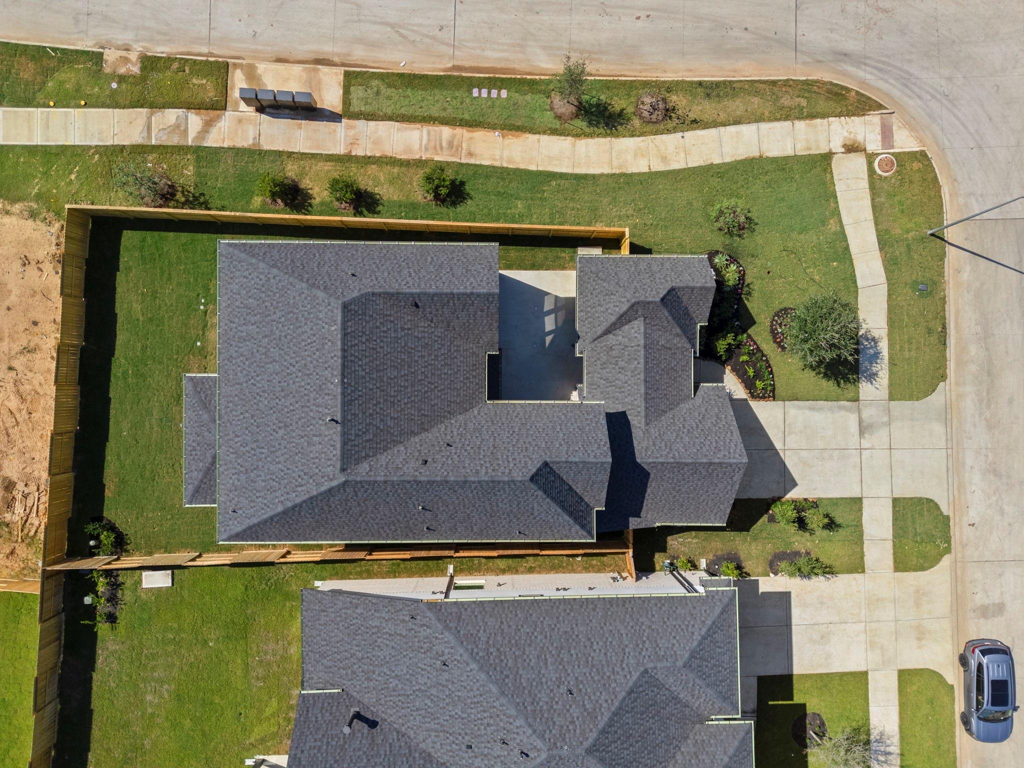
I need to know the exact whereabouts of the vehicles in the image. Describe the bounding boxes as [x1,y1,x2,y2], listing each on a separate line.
[956,636,1016,742]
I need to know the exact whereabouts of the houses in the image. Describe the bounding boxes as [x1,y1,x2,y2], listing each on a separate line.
[292,567,756,768]
[183,240,747,544]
